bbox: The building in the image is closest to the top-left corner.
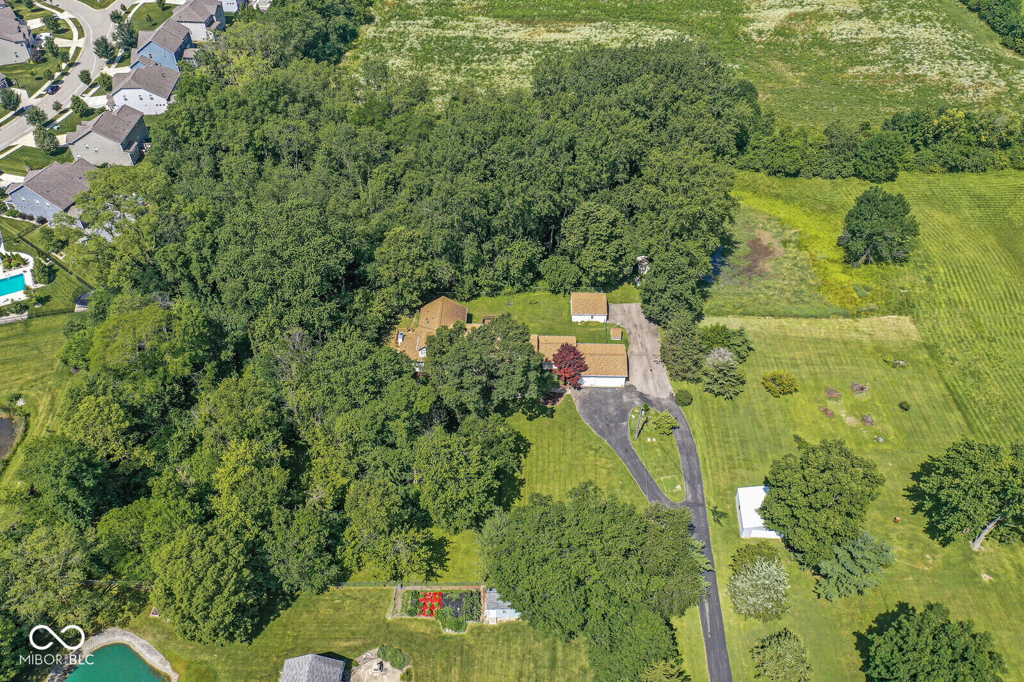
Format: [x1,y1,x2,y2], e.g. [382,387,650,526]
[0,2,44,66]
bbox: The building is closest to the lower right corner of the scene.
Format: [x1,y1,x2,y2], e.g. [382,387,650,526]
[728,484,786,538]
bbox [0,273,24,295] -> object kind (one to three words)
swimming pool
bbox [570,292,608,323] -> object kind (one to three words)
building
